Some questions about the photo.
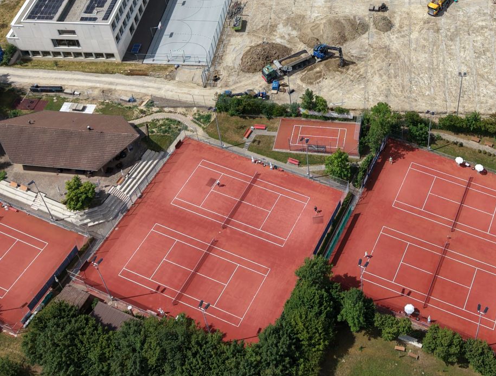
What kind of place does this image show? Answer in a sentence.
It's a sports ground.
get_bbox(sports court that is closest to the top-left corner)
[143,0,226,65]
